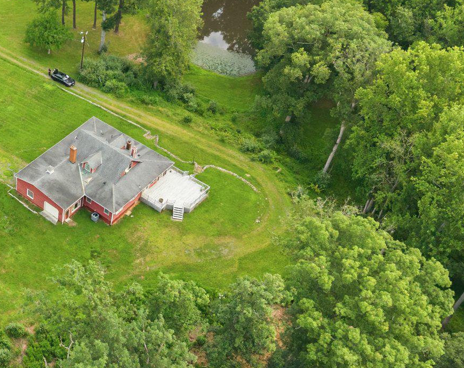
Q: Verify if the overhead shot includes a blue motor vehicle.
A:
No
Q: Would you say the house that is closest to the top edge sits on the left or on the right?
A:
left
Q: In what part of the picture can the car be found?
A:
top left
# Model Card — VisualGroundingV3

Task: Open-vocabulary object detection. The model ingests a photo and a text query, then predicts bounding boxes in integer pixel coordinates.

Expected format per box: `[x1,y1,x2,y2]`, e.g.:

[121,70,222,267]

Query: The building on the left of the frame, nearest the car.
[11,116,175,228]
